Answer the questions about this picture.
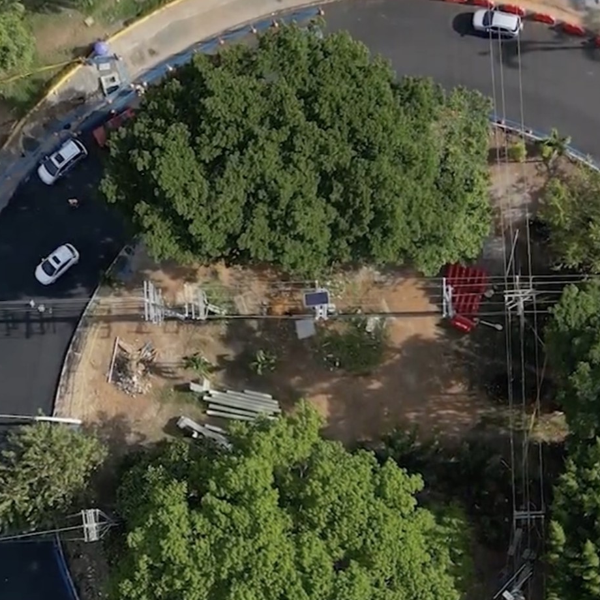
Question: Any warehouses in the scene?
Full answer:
No, I can see no warehouse in this picture.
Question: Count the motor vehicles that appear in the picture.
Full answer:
In total, there are 3 motor vehicles in the scene.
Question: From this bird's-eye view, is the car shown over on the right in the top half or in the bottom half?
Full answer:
It is in the top half that the car shown over on the right appears.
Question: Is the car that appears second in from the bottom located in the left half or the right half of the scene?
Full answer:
You can find the car that appears second in from the bottom on the left side of the picture.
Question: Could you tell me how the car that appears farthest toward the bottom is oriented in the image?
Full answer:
In this picture, the car that appears farthest toward the bottom lies at an angle.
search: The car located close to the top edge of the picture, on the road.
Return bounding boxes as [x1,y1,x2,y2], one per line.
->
[473,6,526,37]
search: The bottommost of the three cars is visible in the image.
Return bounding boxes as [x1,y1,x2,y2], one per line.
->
[32,241,80,283]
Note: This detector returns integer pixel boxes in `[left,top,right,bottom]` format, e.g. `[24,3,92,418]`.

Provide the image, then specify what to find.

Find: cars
[35,138,87,181]
[473,6,526,37]
[32,241,80,283]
